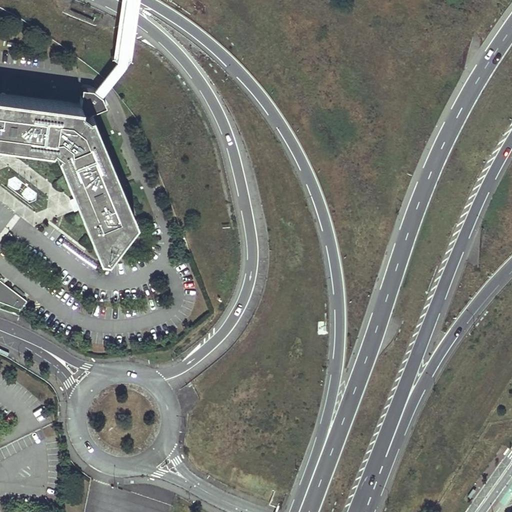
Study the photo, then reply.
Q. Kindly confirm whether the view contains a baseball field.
No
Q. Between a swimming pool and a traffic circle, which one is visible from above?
traffic circle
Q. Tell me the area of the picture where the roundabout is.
bottom left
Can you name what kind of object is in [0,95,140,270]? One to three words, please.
building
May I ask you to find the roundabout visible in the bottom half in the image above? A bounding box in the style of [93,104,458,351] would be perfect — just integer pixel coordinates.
[66,363,182,478]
